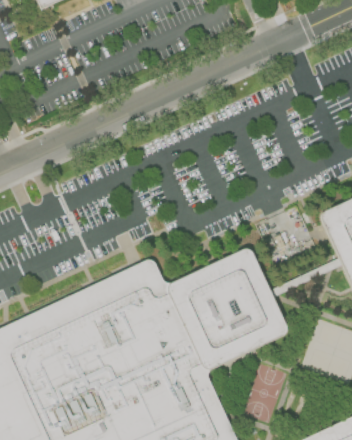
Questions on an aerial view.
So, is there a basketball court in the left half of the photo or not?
No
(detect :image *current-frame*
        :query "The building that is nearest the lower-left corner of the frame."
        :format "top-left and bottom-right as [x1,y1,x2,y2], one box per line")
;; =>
[0,248,288,440]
